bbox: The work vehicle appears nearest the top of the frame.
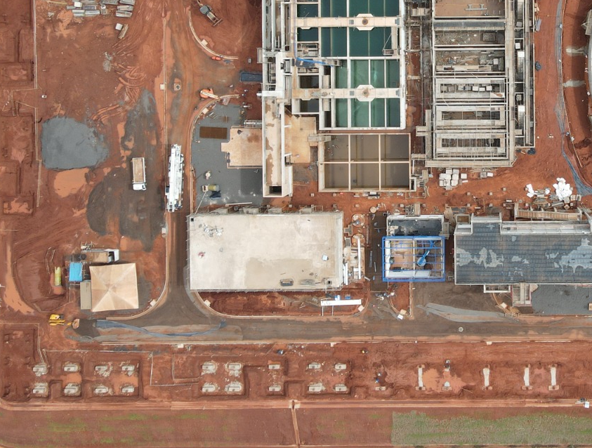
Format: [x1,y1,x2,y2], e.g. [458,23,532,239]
[194,0,220,26]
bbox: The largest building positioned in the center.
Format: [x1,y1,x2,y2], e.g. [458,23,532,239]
[185,206,347,293]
